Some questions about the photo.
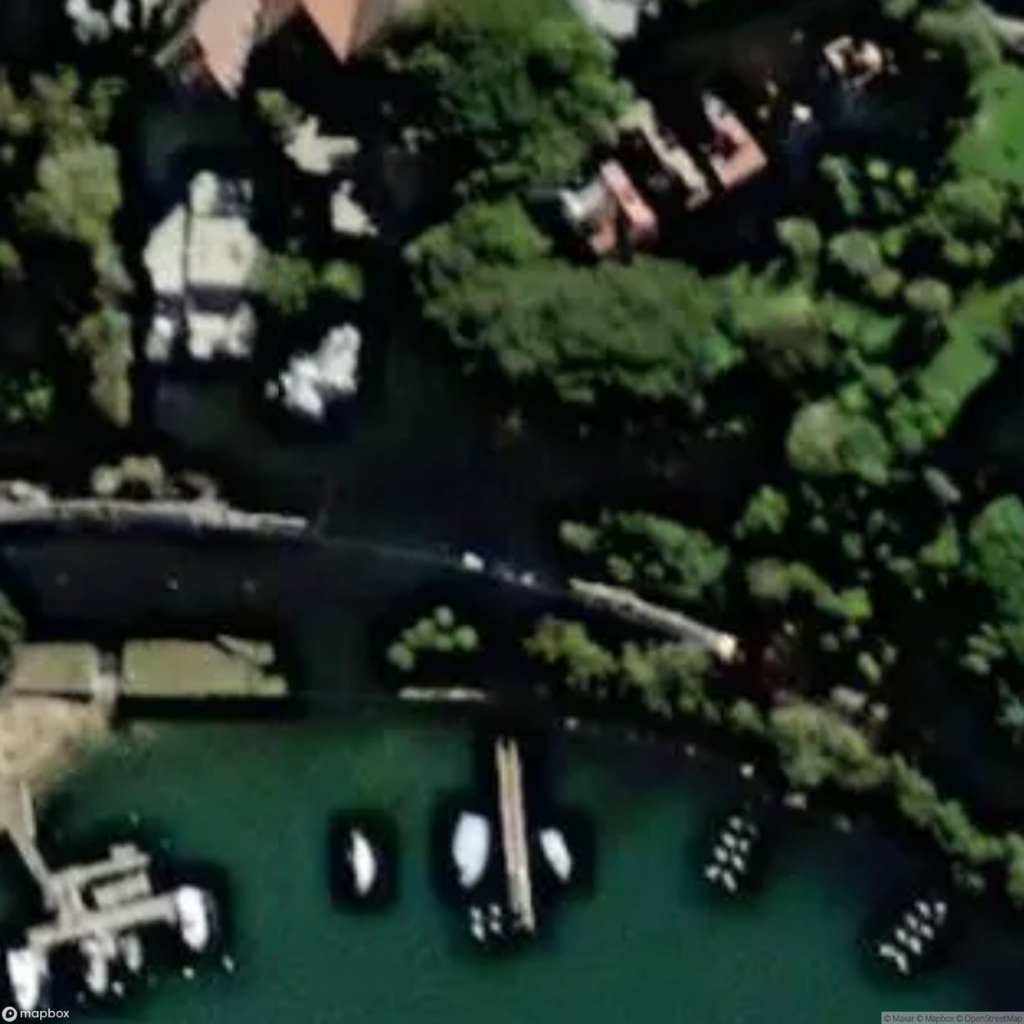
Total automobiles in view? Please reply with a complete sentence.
The photo contains exactly 1 automobile.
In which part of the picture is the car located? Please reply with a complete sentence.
Look in the center portion of the view to spot the car.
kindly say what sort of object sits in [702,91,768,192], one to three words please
house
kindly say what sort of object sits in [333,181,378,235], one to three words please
building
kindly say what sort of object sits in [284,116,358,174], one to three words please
building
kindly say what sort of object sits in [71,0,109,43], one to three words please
shed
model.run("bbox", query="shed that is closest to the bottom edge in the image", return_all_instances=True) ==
[923,468,960,501]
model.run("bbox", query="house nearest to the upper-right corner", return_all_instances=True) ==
[823,35,882,90]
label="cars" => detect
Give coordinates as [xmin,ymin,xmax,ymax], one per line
[460,550,485,570]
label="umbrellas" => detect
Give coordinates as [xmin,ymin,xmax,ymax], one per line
[794,106,809,120]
